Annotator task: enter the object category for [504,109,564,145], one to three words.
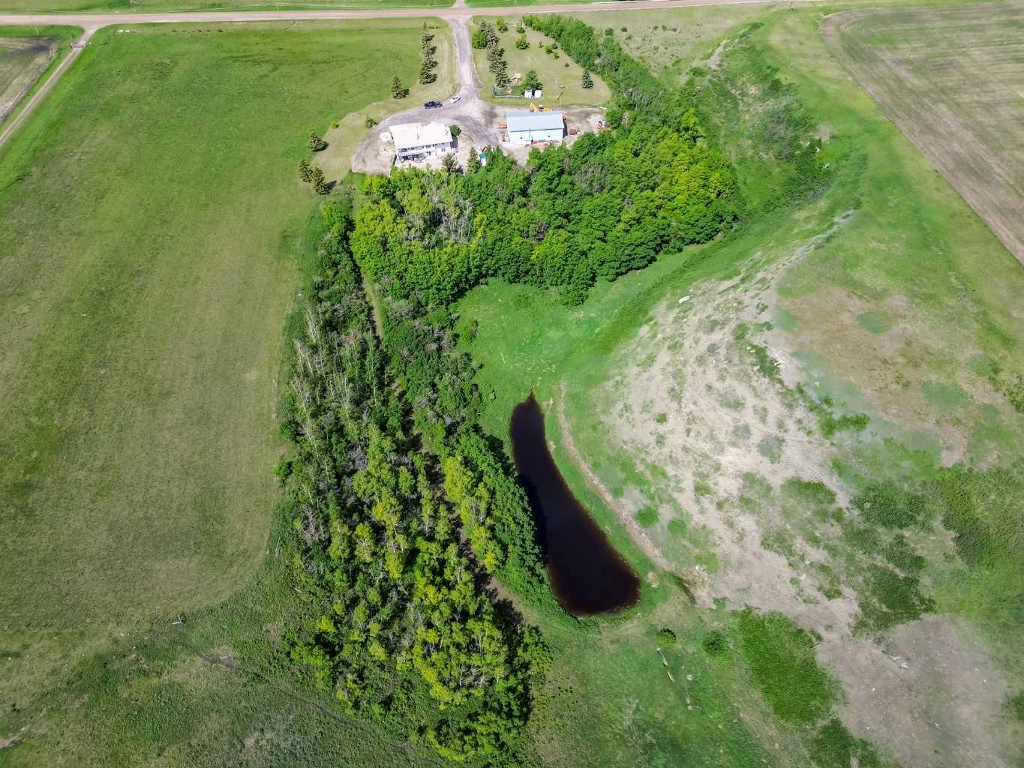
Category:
shed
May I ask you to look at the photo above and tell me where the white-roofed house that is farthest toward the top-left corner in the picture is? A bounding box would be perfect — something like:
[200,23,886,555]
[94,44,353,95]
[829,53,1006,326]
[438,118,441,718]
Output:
[390,121,453,165]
